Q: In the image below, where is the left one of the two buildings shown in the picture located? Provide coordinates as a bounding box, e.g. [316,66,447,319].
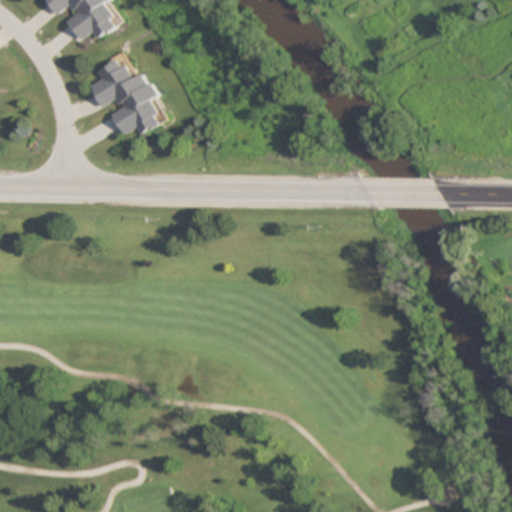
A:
[48,0,124,40]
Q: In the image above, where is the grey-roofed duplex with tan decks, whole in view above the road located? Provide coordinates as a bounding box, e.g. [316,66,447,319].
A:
[91,52,168,136]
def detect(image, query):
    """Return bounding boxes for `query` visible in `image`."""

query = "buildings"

[91,52,168,136]
[48,0,124,40]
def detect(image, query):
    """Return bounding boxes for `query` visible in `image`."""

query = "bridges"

[354,170,456,216]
